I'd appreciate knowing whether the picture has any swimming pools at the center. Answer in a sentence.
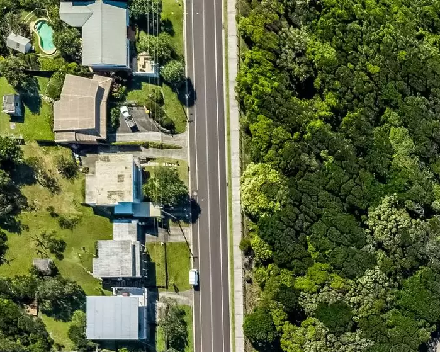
No, no swimming pool is visible at the center.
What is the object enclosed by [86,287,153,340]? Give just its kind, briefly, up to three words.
house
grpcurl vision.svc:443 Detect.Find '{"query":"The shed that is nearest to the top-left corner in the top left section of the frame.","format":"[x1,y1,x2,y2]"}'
[7,34,35,56]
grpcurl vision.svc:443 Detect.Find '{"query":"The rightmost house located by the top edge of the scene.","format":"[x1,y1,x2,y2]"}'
[59,0,140,71]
